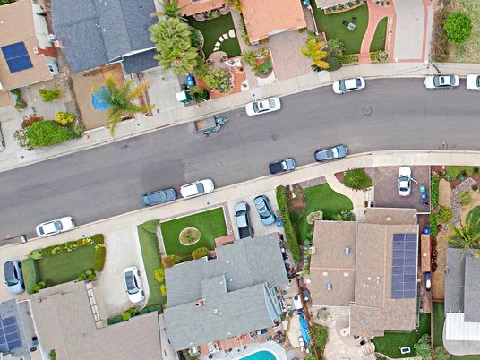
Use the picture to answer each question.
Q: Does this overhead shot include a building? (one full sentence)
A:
Yes, there's a building down there.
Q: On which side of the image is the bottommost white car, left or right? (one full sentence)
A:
The bottommost white car is on the left side of the image.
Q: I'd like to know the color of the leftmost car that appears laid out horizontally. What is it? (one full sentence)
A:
The leftmost car that appears laid out horizontally looks white in the image.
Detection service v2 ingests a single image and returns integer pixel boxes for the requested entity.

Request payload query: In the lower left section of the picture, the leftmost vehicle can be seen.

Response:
[5,258,26,294]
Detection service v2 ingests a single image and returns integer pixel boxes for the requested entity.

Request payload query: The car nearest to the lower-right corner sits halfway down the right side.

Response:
[396,166,412,196]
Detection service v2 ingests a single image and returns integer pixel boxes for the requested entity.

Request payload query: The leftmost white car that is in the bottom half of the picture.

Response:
[37,215,77,236]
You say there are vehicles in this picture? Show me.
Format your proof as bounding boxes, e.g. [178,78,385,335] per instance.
[332,76,367,94]
[124,264,148,303]
[234,200,252,239]
[466,73,480,90]
[37,215,77,236]
[254,193,278,227]
[140,187,179,206]
[396,166,412,196]
[5,258,26,294]
[245,98,282,115]
[179,178,217,198]
[266,156,298,176]
[192,115,227,135]
[424,73,459,89]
